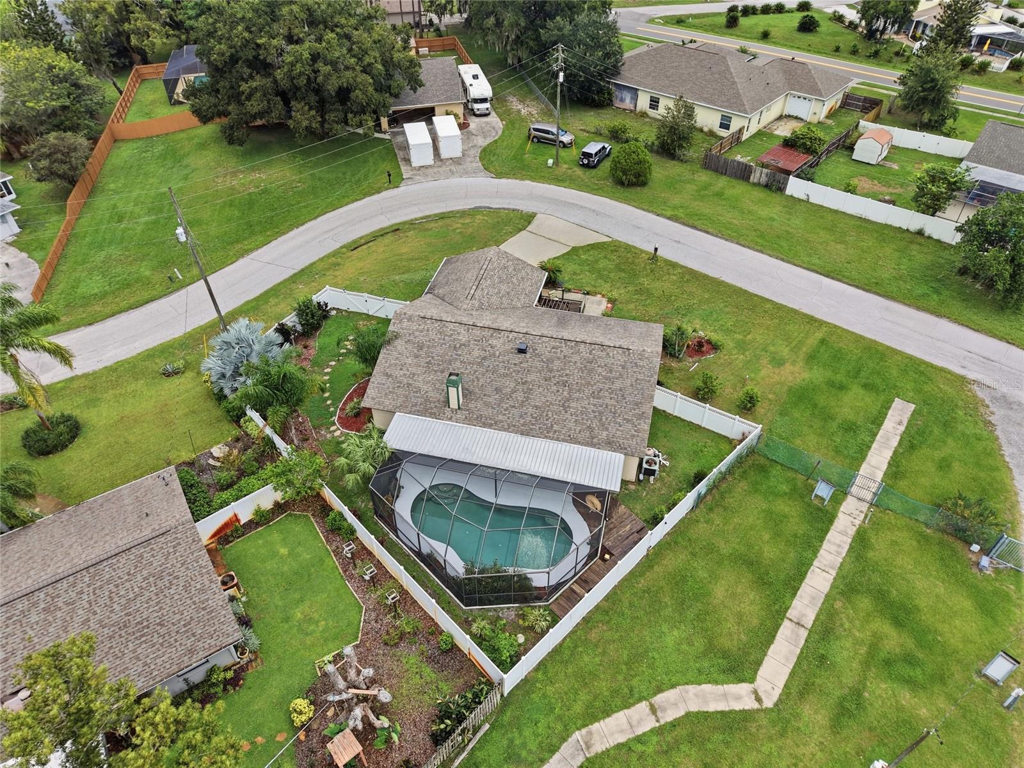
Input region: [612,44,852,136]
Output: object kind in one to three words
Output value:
house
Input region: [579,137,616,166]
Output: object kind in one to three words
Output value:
car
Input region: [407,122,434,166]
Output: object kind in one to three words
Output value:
shipping container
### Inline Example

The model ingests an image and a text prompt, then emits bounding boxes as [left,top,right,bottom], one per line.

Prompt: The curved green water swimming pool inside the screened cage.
[410,481,573,569]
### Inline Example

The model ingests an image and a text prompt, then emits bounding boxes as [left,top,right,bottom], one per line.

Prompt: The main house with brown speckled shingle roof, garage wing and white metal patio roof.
[360,246,664,519]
